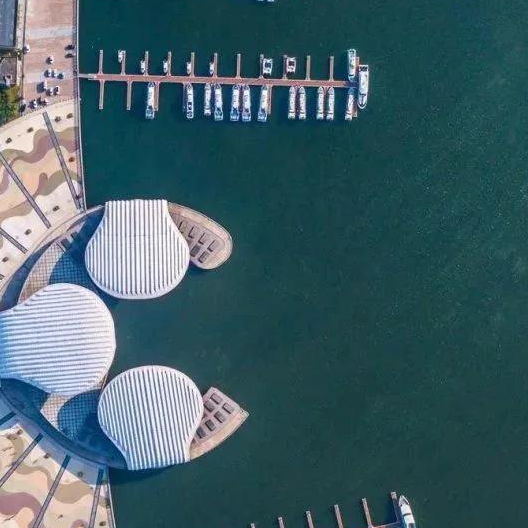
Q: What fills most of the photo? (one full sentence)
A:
The largest share of the image is taken up by water.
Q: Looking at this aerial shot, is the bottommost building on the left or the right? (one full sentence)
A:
The bottommost building is on the left side of the image.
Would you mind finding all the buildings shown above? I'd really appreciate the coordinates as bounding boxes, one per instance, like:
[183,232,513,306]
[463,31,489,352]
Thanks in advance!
[0,0,19,53]
[85,199,189,299]
[0,57,17,87]
[98,365,203,469]
[0,282,116,395]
